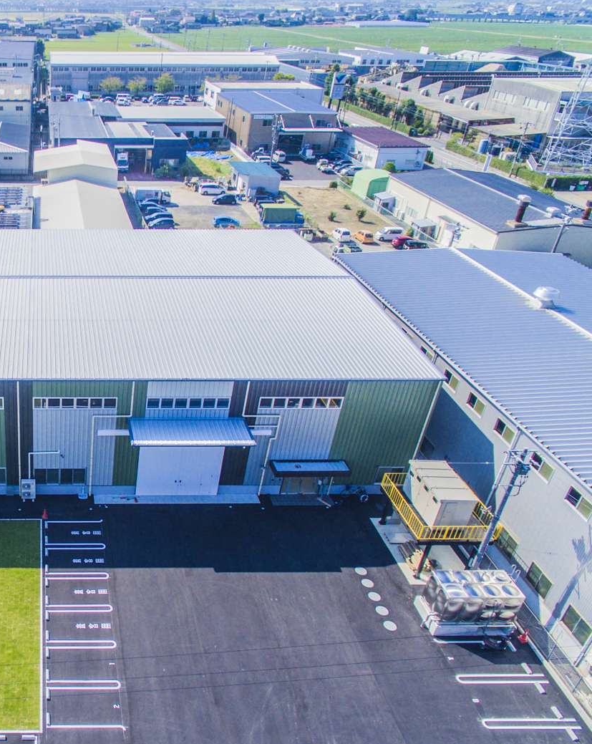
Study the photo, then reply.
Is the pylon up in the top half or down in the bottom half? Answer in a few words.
top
